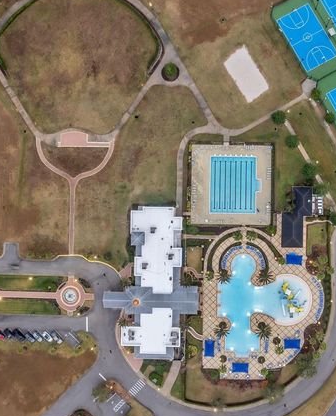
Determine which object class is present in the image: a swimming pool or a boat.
swimming pool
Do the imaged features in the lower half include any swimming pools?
Yes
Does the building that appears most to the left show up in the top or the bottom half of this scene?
bottom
